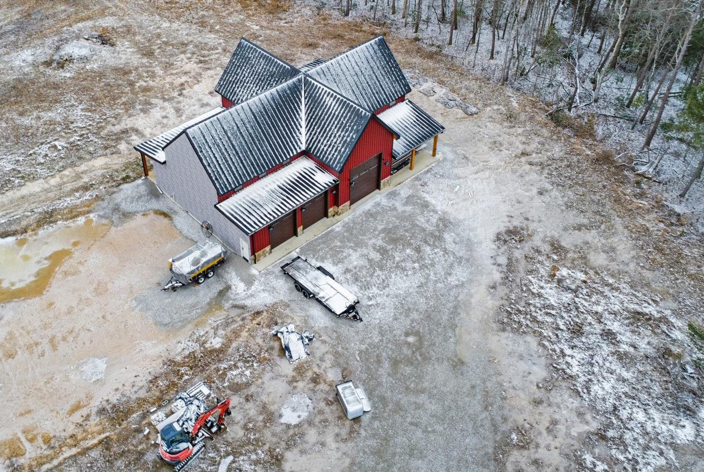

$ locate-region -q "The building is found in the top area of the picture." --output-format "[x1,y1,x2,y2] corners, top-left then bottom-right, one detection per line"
[133,36,445,266]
